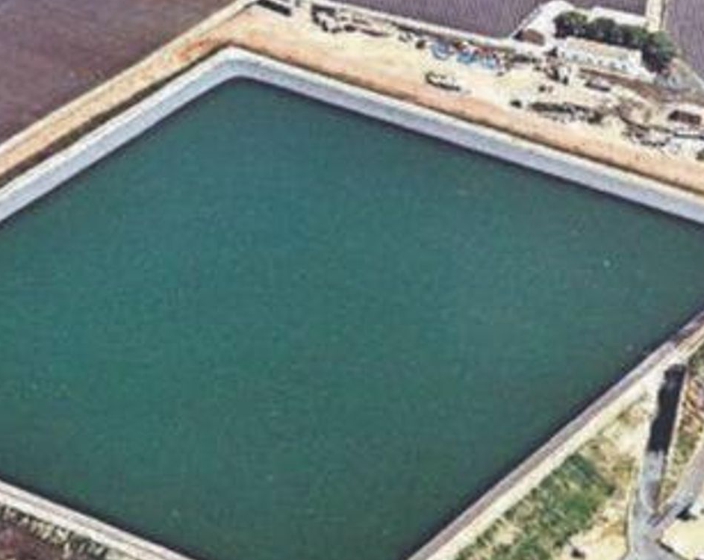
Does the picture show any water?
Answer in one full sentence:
Yes, some water is visible.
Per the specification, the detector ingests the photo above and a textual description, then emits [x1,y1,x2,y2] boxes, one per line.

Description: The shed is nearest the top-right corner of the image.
[591,4,654,29]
